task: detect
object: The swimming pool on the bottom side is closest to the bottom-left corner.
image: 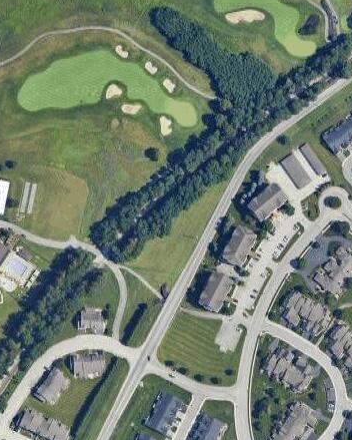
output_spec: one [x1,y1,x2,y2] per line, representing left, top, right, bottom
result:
[1,277,17,292]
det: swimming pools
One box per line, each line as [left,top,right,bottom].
[1,277,17,292]
[0,251,37,287]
